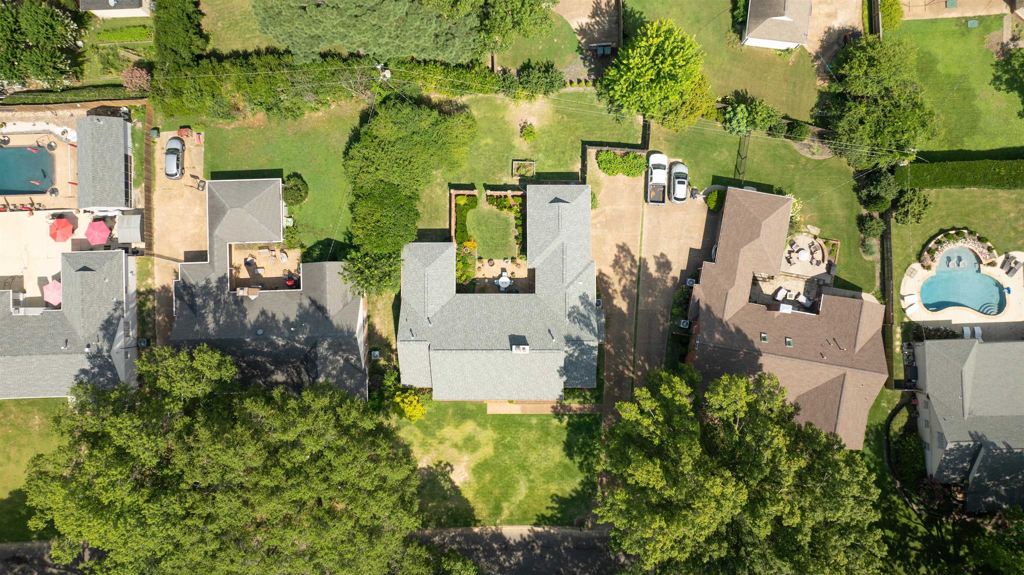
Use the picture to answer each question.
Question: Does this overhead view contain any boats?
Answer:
No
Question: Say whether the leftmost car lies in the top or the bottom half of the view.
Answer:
top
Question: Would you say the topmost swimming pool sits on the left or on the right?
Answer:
left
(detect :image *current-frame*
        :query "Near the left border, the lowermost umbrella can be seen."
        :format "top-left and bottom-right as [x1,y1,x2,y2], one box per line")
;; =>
[44,279,61,306]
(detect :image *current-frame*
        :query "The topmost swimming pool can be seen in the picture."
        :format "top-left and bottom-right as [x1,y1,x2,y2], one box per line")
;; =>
[0,147,55,195]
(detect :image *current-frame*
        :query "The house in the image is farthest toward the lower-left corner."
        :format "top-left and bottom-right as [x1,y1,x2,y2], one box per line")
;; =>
[0,250,137,399]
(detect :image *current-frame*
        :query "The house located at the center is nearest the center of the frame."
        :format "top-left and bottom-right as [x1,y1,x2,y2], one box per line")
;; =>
[396,185,605,400]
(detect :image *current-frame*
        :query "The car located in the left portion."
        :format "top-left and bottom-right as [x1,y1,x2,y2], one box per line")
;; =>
[161,138,184,179]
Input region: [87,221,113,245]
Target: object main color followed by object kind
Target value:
pink umbrella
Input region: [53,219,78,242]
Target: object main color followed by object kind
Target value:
red umbrella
